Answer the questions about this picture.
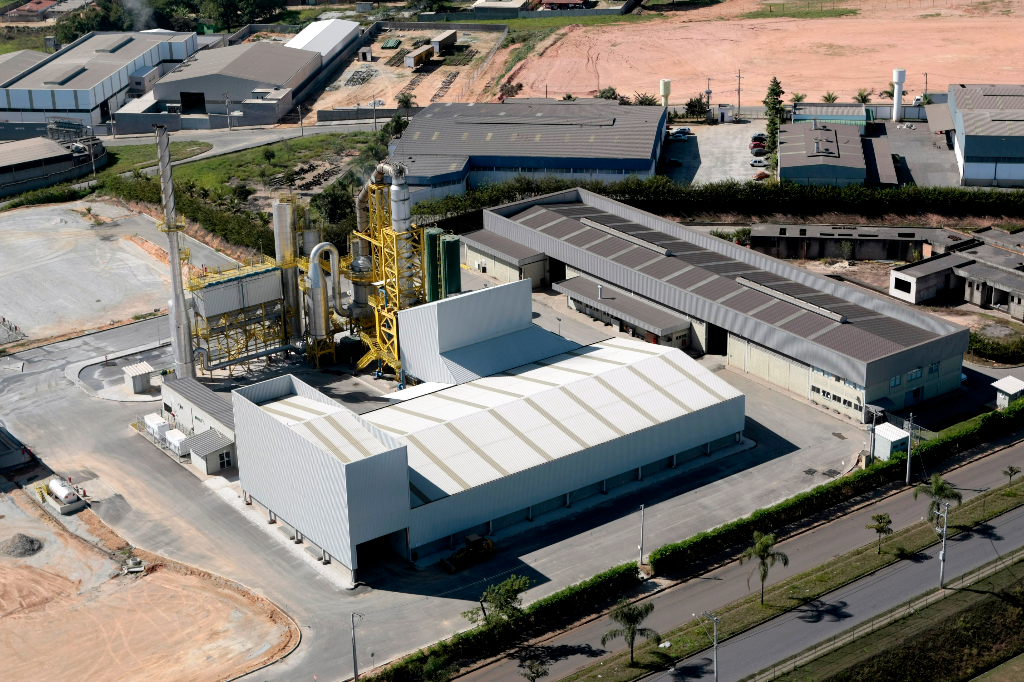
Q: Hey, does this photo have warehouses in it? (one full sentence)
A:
Yes, the frame does contain a warehouse.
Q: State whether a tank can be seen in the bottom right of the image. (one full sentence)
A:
No, I can find no tank in the bottom right of the image.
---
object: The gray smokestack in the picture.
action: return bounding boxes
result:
[154,124,199,377]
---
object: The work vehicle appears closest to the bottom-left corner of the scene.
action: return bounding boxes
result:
[440,535,498,580]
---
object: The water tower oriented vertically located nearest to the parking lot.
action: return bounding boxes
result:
[659,78,672,121]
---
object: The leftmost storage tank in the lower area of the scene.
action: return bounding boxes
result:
[20,467,86,513]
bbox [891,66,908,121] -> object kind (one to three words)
water tower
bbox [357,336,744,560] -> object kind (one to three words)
warehouse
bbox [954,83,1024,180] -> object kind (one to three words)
building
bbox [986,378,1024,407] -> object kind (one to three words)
shed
